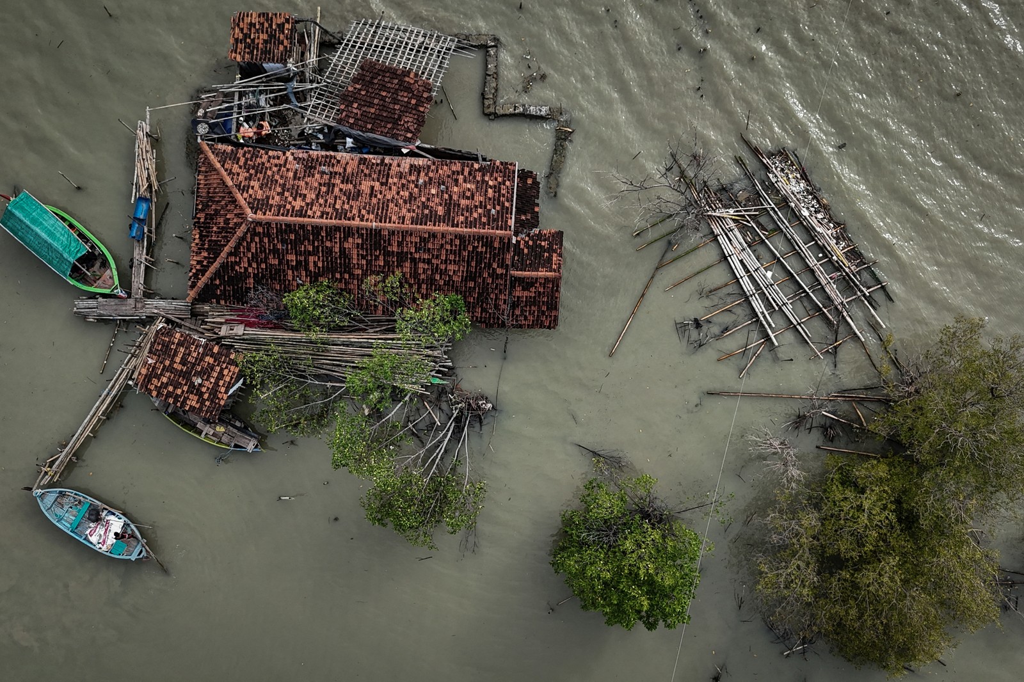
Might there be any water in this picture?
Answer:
Yes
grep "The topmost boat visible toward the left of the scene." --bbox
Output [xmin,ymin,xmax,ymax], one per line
[0,189,126,298]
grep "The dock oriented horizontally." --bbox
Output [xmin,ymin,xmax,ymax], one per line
[73,294,195,323]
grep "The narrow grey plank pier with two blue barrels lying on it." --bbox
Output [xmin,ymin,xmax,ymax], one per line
[131,107,163,299]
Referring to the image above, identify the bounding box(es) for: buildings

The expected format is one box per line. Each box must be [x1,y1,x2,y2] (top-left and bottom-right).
[334,58,434,148]
[227,10,308,77]
[135,323,260,422]
[184,131,565,330]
